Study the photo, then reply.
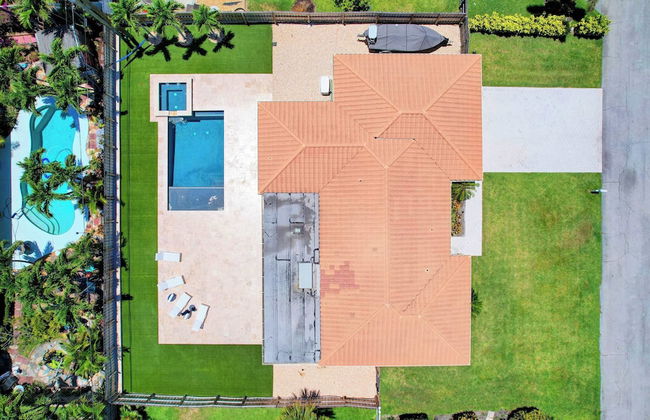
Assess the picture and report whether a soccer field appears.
No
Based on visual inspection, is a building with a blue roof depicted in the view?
No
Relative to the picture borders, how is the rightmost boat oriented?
horizontally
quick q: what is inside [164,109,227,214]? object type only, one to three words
swimming pool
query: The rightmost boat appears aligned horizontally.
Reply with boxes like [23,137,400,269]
[356,26,449,53]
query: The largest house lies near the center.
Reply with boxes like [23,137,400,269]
[256,53,484,367]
